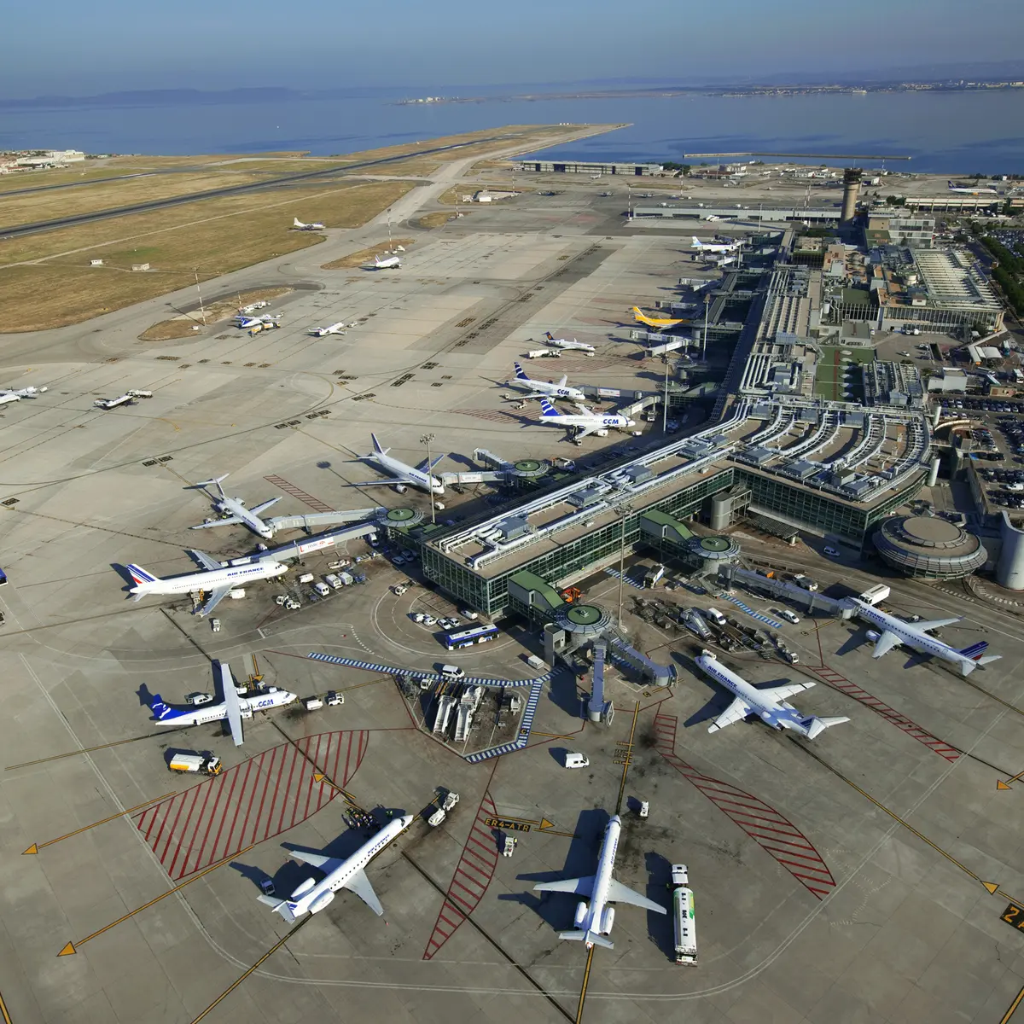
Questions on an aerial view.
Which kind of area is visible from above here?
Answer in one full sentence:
This looks like an airport.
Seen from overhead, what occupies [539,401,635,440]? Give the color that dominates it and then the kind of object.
white airplane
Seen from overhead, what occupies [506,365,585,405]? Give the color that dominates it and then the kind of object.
white airplane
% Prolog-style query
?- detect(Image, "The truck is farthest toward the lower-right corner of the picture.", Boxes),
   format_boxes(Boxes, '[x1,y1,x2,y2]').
[671,859,694,963]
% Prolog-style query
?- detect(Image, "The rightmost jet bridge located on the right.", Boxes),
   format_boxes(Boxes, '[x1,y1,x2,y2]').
[724,557,868,624]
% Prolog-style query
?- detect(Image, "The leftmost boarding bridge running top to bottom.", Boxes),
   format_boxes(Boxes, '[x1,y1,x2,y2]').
[577,635,621,728]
